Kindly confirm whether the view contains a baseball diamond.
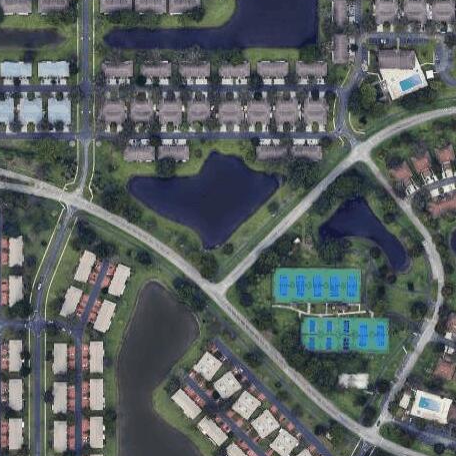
No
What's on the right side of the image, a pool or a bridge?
pool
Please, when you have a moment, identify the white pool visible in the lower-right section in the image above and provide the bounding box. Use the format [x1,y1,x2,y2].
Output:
[412,391,452,424]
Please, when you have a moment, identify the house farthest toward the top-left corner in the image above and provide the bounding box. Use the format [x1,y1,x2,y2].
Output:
[2,0,32,15]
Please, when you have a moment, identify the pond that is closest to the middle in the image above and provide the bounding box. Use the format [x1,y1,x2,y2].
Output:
[320,199,408,271]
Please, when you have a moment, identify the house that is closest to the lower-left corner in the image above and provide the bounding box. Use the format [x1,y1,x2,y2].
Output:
[10,418,24,449]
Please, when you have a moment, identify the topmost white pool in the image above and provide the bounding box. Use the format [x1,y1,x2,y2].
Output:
[380,57,429,101]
